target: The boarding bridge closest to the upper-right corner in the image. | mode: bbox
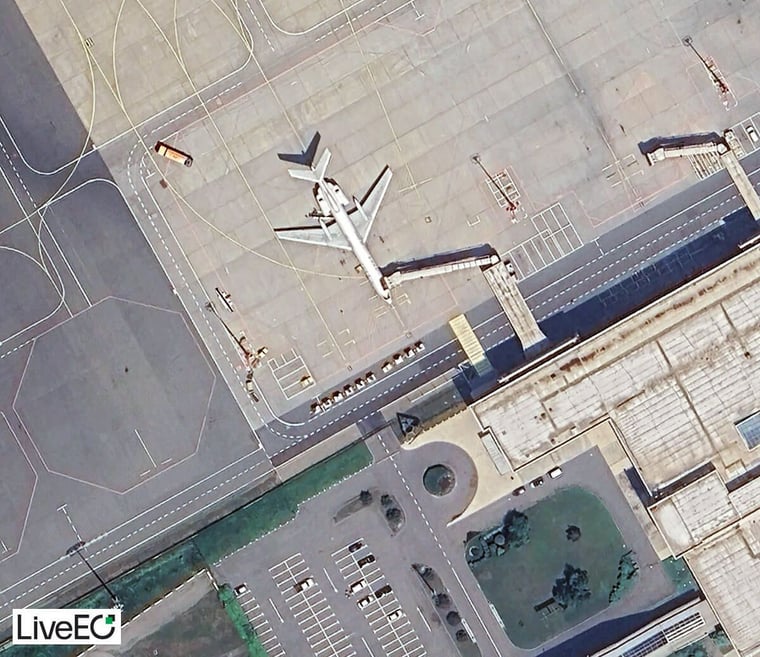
[646,141,729,166]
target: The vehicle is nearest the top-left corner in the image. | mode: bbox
[156,144,192,165]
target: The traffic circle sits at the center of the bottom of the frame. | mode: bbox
[405,445,474,514]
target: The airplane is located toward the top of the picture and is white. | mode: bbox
[273,148,392,304]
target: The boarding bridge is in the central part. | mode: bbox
[381,252,502,288]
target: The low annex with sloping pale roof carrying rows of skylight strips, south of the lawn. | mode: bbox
[578,596,721,657]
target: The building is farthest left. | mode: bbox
[398,412,427,445]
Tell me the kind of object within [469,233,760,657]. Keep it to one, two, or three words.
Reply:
building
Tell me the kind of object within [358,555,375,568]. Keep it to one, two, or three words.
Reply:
vehicle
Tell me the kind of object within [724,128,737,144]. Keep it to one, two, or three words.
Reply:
vehicle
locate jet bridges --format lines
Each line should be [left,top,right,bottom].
[646,141,729,166]
[381,252,502,288]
